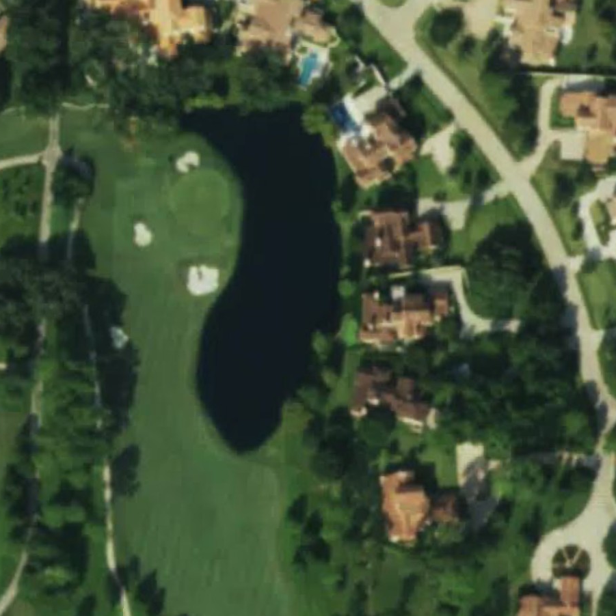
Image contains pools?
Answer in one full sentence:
Yes, the picture does show a pool.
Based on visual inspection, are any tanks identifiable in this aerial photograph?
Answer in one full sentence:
No, the scene contains no tank.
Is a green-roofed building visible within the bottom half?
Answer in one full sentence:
No, no green-roofed building appears within the bottom half.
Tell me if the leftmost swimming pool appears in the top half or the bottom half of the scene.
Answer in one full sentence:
It is in the top half that the leftmost swimming pool appears.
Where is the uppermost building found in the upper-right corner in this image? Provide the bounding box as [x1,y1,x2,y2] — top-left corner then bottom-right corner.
[506,0,579,64]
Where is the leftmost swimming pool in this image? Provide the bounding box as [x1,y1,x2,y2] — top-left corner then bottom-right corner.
[298,44,330,89]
